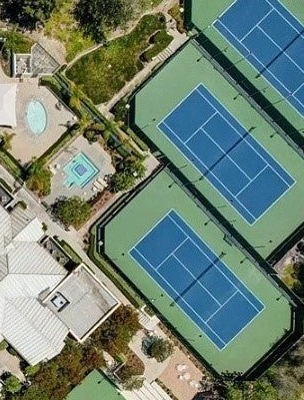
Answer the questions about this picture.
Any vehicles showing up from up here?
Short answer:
No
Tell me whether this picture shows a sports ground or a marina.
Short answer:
sports ground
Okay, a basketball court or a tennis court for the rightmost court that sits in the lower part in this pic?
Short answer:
tennis court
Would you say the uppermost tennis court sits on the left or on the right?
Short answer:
right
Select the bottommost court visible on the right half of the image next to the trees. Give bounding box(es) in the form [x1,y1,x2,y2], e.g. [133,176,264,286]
[104,168,293,376]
